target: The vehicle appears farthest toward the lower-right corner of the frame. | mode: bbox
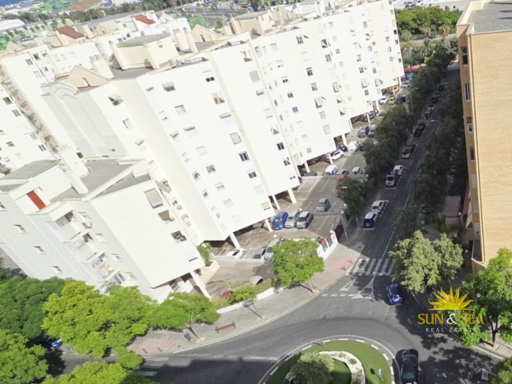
[396,353,422,384]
